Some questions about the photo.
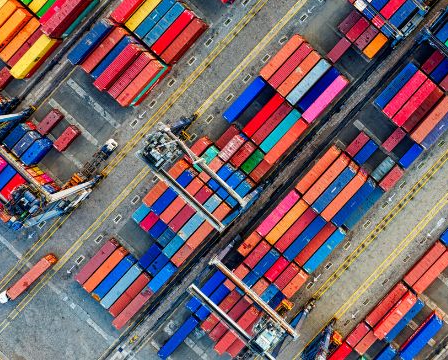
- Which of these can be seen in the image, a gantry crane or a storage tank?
gantry crane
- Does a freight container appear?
Yes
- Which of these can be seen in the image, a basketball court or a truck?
truck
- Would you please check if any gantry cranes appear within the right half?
Yes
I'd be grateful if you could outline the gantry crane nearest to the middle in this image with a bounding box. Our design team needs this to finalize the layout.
[135,107,275,234]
